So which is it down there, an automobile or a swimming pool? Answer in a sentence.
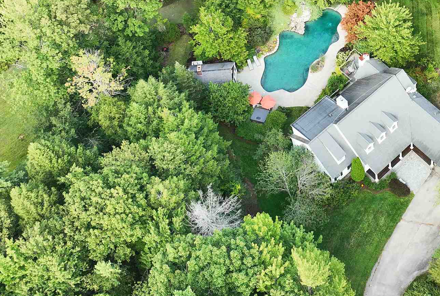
Looking from above, you can make out a swimming pool.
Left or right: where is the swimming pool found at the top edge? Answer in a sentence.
The swimming pool found at the top edge is on the right side of the image.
